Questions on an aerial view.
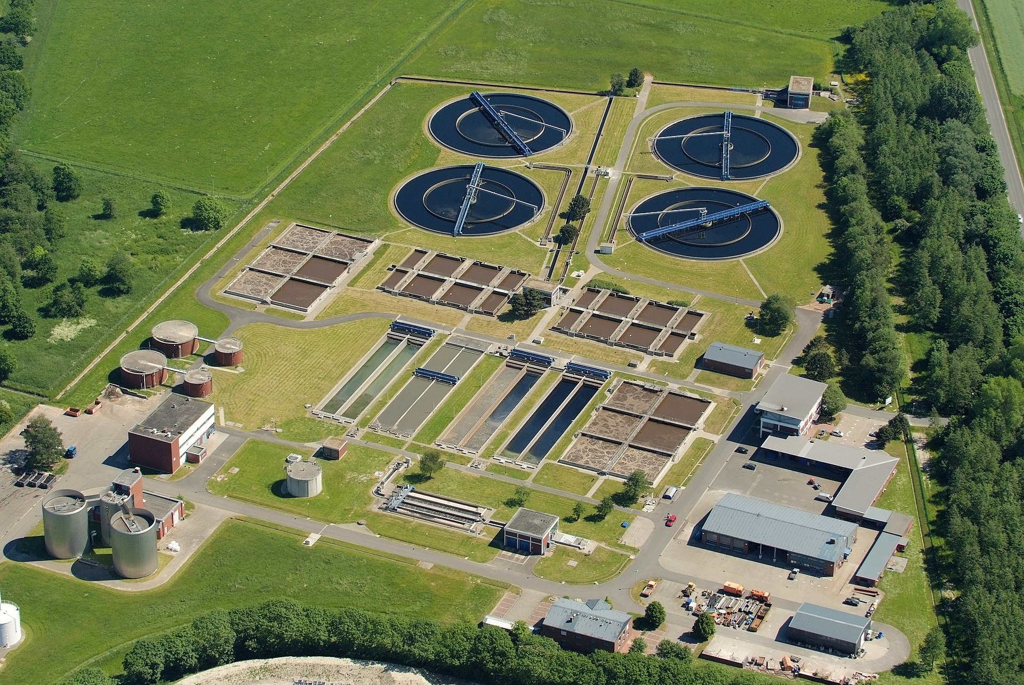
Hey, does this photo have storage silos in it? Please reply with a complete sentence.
Yes, the image includes a storage silo.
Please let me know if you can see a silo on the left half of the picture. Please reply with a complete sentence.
Yes, I can see a silo on the left half of the picture.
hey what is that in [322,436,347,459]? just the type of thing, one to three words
shed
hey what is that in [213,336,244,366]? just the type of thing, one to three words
storage tank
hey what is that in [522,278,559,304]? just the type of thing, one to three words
building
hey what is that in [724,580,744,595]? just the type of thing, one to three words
vehicle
